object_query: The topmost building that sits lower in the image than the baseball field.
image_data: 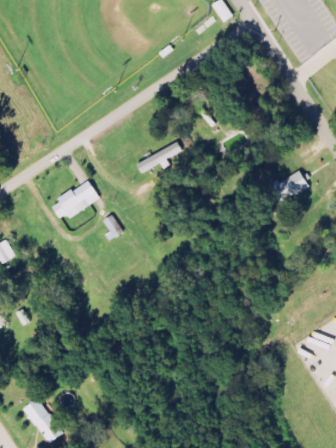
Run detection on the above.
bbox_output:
[136,142,183,173]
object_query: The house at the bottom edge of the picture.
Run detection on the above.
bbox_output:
[23,402,64,446]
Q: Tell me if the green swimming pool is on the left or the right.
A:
right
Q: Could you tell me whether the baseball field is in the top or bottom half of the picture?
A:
top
